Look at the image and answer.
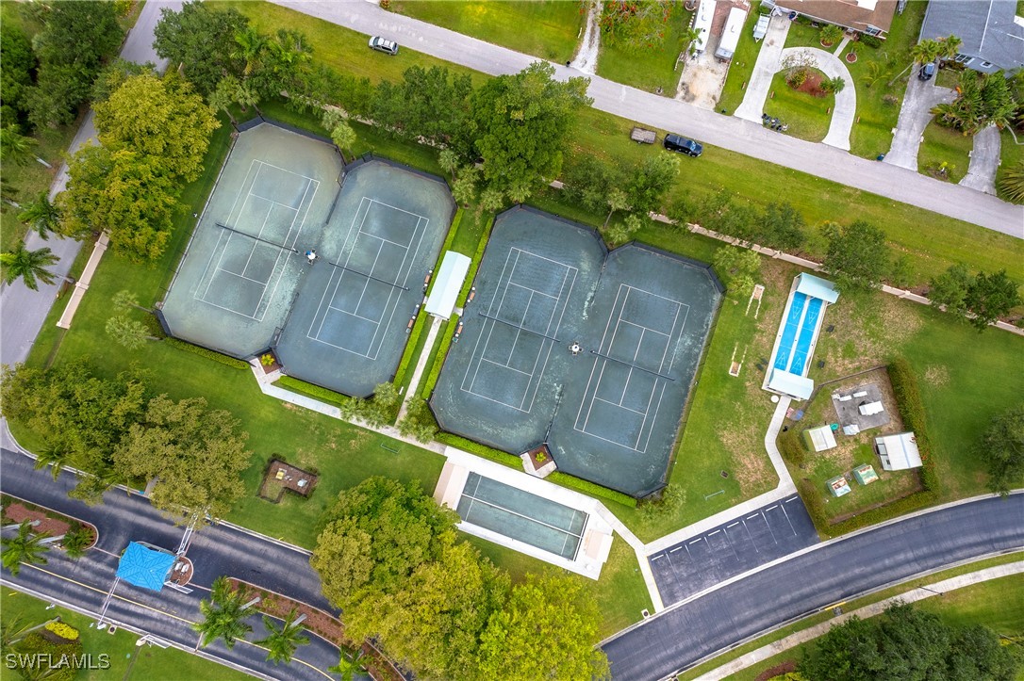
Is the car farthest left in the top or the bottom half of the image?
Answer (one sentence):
The top half of the photo is where the car farthest left is.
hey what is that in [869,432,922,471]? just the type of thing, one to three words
shed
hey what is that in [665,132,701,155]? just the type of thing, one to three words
car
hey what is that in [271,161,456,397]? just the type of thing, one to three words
tennis court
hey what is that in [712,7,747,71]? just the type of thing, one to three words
trailer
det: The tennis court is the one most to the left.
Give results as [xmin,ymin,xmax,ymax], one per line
[162,123,347,357]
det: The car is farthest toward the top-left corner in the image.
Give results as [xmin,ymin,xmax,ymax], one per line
[369,34,401,54]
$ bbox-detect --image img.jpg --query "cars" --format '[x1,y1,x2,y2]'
[665,132,701,155]
[369,34,401,54]
[918,60,937,83]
